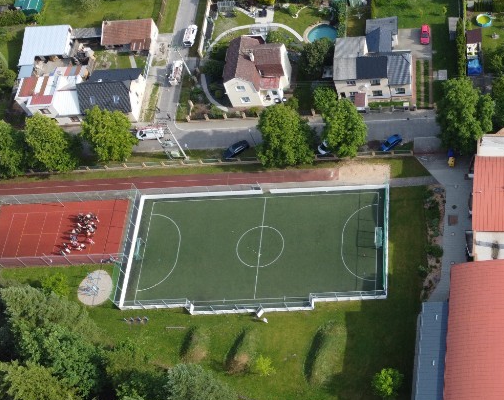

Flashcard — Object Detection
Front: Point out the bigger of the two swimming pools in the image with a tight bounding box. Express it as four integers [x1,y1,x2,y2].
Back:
[301,21,340,46]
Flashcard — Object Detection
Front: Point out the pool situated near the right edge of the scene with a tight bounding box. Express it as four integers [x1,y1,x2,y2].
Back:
[476,13,492,29]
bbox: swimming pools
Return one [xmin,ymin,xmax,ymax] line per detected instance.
[476,13,492,29]
[301,21,340,46]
